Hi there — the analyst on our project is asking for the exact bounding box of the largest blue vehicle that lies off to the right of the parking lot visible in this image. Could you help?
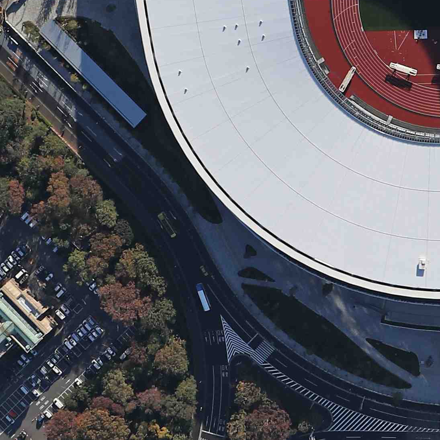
[196,284,214,313]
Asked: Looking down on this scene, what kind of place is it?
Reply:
sports ground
